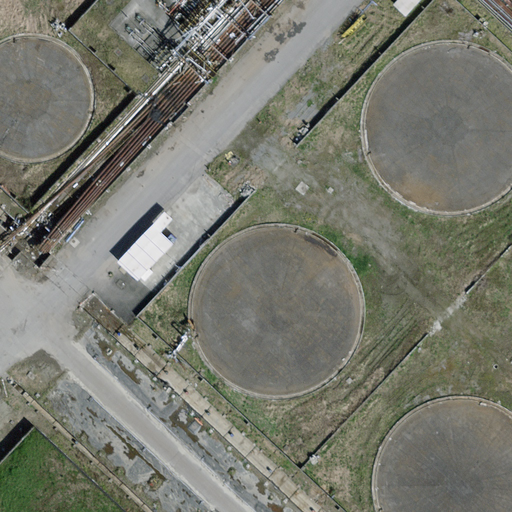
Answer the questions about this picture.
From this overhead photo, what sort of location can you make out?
industrial area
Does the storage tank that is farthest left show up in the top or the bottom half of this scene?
top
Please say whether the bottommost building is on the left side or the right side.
left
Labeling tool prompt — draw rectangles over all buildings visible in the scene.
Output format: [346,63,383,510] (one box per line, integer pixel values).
[116,211,173,284]
[394,0,420,16]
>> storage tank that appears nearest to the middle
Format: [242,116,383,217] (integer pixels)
[188,222,364,398]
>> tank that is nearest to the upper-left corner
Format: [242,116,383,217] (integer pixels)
[0,33,94,162]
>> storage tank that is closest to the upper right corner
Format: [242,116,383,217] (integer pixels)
[362,40,512,214]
